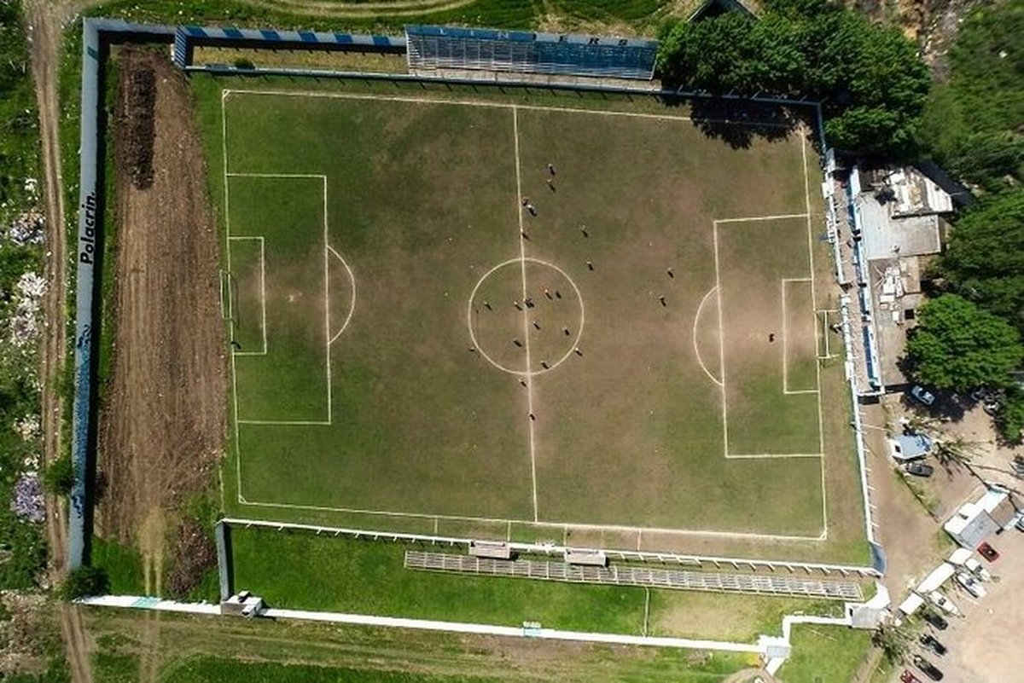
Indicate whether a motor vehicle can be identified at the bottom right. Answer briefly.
Yes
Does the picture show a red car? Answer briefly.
Yes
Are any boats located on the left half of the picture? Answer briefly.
No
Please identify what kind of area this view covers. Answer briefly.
sports ground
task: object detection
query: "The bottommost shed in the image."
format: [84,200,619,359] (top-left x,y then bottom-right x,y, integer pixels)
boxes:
[759,637,789,658]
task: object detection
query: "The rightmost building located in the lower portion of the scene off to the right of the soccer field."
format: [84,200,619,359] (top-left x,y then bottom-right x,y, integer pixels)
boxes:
[945,487,1018,549]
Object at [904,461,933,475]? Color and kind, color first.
gray car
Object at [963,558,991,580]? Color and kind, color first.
white vehicle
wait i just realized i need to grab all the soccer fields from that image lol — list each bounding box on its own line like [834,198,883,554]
[192,70,870,567]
